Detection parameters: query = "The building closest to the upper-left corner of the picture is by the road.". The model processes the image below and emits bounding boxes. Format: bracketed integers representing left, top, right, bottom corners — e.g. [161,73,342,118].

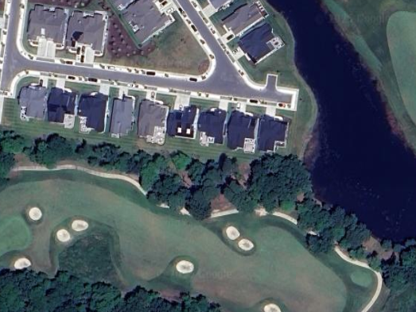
[28,8,65,48]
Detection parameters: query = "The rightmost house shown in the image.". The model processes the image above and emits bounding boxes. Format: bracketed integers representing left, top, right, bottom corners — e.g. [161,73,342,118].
[257,118,288,149]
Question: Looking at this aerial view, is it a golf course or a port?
golf course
